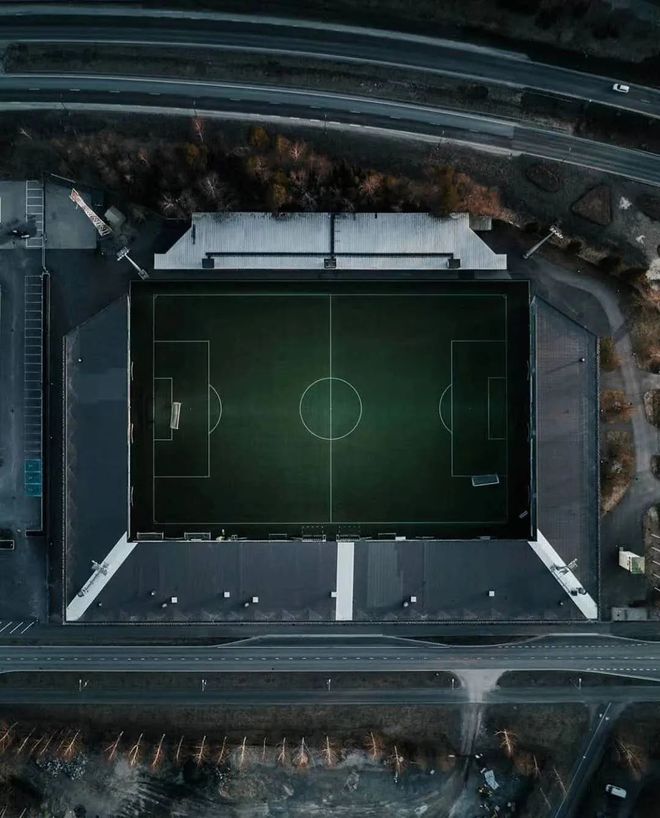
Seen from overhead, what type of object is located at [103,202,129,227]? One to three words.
shed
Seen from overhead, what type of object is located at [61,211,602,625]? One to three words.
stadium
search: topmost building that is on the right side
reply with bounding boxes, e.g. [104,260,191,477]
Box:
[619,551,645,574]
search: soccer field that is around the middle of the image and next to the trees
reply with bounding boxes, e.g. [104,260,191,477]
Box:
[129,280,531,541]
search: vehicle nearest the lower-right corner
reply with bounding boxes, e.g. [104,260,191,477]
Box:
[606,784,626,798]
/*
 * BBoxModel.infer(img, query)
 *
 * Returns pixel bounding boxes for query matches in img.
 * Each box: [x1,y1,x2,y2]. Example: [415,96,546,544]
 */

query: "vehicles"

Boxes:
[606,784,626,798]
[613,84,629,93]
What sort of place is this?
sports ground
